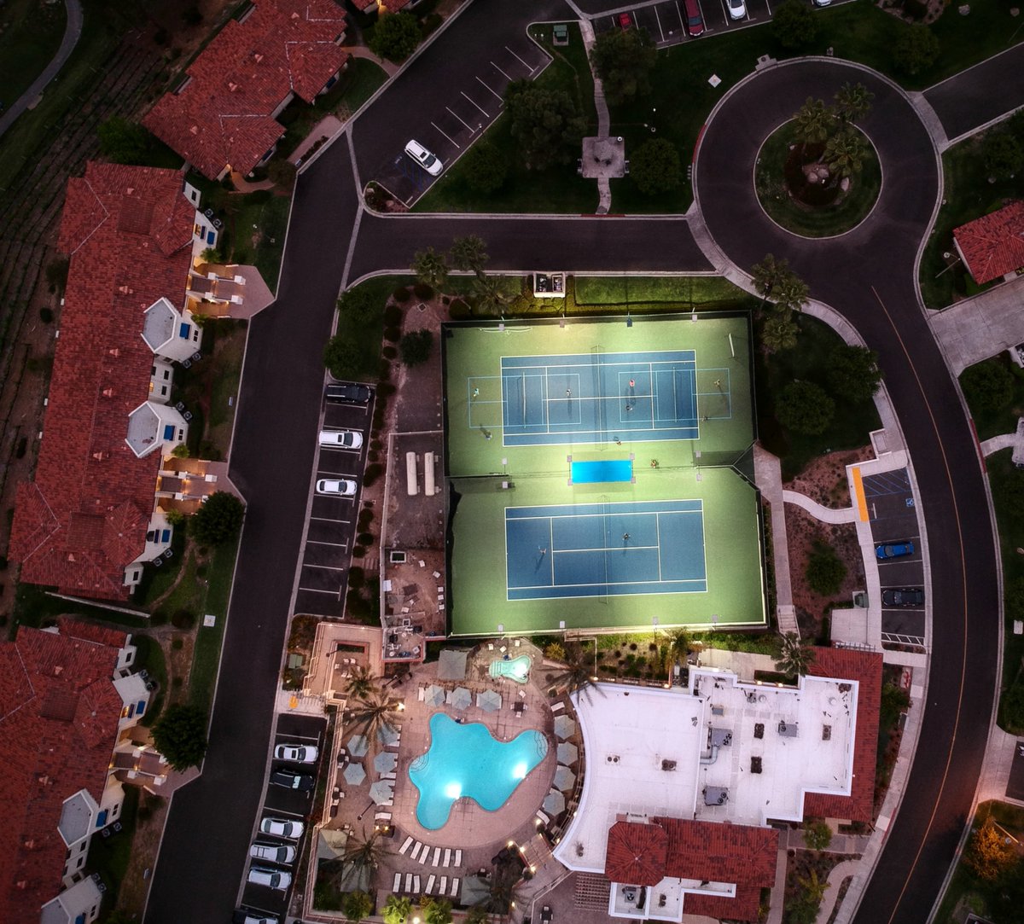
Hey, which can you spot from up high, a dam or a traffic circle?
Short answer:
traffic circle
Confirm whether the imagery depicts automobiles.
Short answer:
Yes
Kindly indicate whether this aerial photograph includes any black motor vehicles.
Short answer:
Yes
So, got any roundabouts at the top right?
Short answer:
Yes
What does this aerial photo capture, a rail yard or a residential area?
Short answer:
residential area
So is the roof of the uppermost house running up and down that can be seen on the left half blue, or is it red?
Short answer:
red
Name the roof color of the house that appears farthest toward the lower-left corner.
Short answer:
red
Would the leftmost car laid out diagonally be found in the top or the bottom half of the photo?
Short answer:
top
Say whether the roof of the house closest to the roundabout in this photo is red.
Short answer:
Yes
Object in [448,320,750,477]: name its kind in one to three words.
tennis court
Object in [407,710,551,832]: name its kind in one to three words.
swimming pool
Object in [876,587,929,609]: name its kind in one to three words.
truck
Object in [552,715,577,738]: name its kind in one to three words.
umbrella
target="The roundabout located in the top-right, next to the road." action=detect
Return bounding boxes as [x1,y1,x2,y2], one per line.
[696,59,939,299]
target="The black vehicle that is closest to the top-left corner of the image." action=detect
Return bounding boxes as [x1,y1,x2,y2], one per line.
[328,383,369,402]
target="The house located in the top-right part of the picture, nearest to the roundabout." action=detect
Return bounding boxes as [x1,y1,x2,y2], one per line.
[951,202,1024,285]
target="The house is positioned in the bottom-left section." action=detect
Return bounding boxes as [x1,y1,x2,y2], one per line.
[0,617,149,924]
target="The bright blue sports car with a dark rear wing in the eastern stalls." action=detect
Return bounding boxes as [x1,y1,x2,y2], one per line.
[874,541,915,561]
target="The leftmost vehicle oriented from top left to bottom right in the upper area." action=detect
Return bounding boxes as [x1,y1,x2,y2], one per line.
[404,139,441,175]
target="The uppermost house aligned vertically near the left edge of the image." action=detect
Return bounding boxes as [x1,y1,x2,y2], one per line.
[7,161,214,601]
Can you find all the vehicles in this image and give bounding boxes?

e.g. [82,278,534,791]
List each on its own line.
[276,742,317,764]
[404,139,441,175]
[615,4,637,38]
[249,840,297,867]
[317,478,357,497]
[874,541,915,561]
[682,0,706,36]
[723,0,746,25]
[236,907,280,924]
[876,587,929,609]
[320,430,361,450]
[267,767,319,793]
[328,383,369,402]
[262,816,304,840]
[247,864,292,890]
